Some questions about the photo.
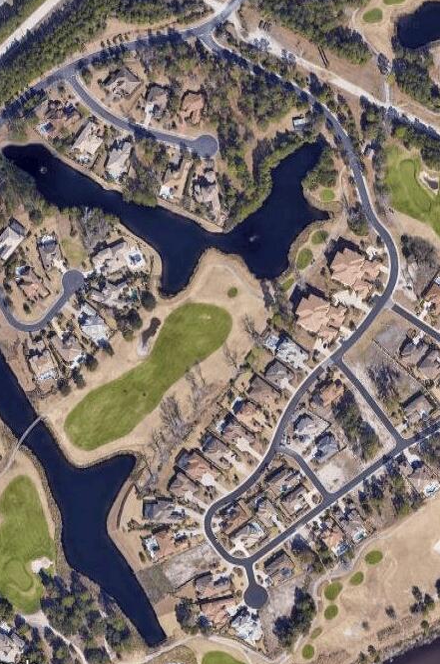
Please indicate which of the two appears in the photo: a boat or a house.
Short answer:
house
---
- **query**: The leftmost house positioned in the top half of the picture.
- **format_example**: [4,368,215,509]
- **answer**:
[0,222,26,257]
